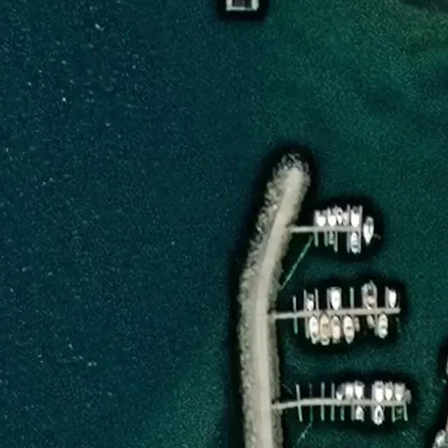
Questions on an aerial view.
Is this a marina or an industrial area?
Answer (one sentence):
What you see here is a marina.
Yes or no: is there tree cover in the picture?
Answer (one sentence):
No, tree cover can't be seen anywhere here.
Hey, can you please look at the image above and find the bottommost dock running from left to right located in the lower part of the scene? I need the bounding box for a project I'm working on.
[278,382,407,422]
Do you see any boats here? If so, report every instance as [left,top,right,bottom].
[355,381,364,400]
[364,217,374,245]
[374,405,383,425]
[328,211,336,227]
[395,383,404,402]
[329,230,334,245]
[346,382,354,400]
[336,207,343,225]
[317,212,325,227]
[364,282,376,309]
[404,390,411,404]
[397,407,403,420]
[344,315,354,344]
[342,210,348,226]
[331,287,341,310]
[320,314,330,345]
[336,386,343,400]
[307,294,314,311]
[378,313,388,338]
[434,429,446,448]
[309,317,318,343]
[331,317,341,343]
[376,381,384,403]
[351,206,360,228]
[386,382,393,401]
[351,232,358,253]
[389,289,397,308]
[367,315,375,329]
[356,406,364,422]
